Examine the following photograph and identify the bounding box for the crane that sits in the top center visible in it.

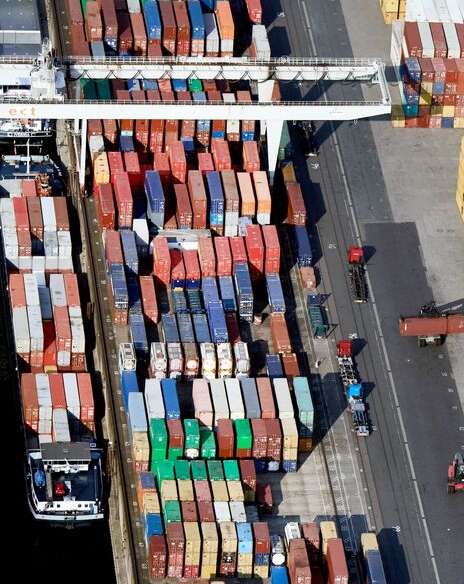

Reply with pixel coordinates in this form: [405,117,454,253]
[0,51,392,195]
